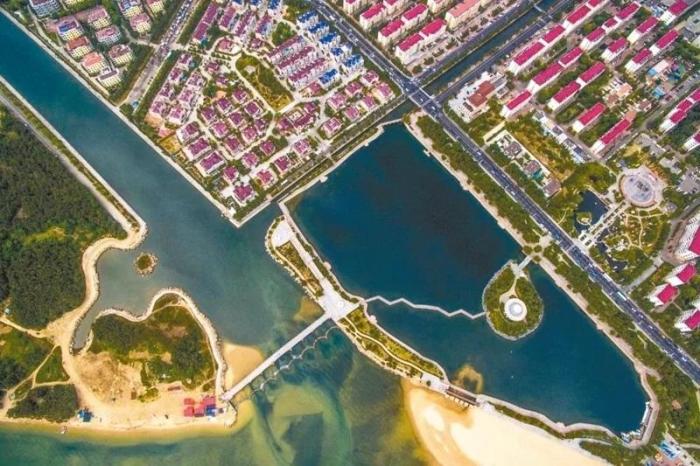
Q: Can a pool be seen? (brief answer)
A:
Yes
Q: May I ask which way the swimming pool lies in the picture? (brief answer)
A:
on a diagonal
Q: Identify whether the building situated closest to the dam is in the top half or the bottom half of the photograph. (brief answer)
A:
bottom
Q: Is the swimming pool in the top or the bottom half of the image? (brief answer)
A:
bottom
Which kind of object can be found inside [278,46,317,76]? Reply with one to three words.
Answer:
house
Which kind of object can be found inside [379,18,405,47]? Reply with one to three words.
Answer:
building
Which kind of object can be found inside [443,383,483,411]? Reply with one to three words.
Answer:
dam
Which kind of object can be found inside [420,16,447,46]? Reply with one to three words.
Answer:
building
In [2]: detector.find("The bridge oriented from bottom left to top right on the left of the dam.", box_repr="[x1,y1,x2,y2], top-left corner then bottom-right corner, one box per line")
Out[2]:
[225,312,332,398]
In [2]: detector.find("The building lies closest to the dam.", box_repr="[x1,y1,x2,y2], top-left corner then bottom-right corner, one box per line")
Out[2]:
[502,298,526,321]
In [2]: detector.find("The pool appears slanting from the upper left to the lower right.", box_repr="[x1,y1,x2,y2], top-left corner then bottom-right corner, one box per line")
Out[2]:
[664,435,690,462]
